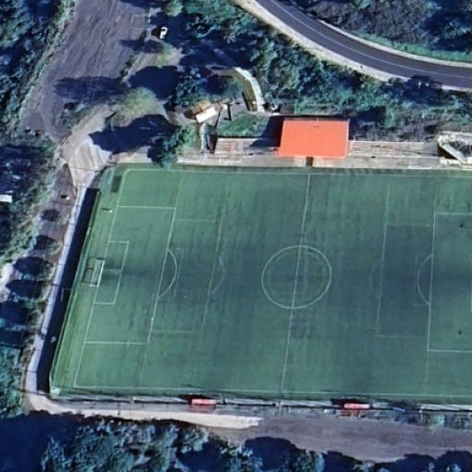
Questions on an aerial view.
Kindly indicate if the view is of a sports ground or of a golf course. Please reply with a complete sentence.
What you see here is a sports ground.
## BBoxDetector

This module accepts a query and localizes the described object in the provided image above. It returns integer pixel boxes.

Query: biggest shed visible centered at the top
[189,101,220,126]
